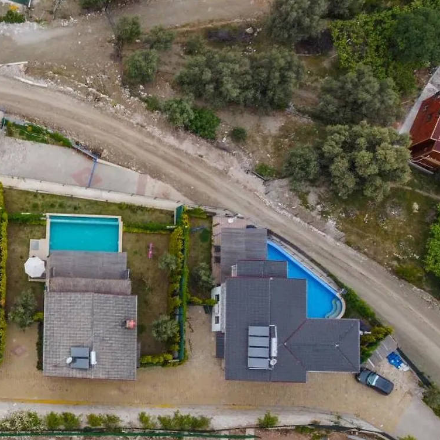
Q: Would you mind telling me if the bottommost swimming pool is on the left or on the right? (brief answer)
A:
right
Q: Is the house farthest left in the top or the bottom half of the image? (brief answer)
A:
bottom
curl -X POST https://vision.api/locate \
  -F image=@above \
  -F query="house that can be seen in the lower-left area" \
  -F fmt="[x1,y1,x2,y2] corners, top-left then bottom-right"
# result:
[40,278,140,381]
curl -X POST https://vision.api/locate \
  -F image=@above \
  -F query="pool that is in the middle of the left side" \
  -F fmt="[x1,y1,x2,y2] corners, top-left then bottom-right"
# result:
[46,212,122,255]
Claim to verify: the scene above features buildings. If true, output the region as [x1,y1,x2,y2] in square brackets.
[409,93,440,172]
[208,260,361,383]
[40,278,140,381]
